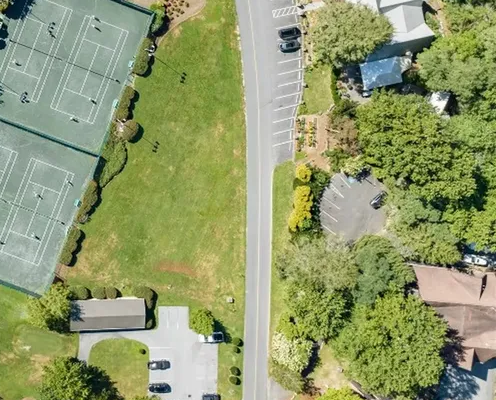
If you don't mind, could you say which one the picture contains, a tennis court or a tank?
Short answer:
tennis court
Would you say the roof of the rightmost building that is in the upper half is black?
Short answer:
No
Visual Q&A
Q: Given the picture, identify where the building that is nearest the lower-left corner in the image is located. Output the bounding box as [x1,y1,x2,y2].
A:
[70,295,147,331]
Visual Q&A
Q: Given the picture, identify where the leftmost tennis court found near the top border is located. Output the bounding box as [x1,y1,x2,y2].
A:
[0,0,85,130]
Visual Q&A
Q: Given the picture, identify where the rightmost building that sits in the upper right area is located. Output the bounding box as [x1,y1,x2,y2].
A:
[422,91,450,113]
